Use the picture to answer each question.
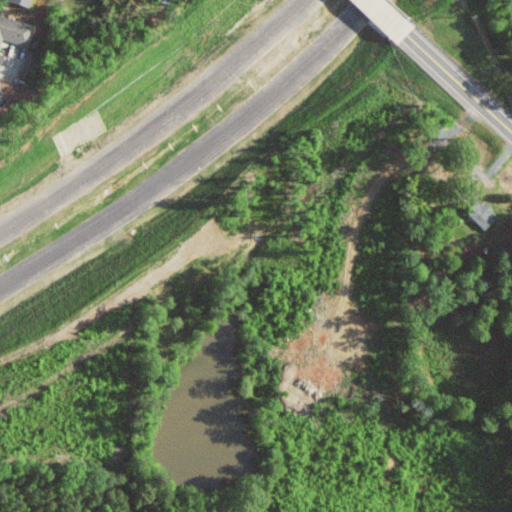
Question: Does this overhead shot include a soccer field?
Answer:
No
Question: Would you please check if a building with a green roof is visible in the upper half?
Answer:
No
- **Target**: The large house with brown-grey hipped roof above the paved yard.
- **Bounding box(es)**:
[0,12,38,50]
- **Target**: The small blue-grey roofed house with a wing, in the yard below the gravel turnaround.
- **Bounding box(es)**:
[466,203,494,232]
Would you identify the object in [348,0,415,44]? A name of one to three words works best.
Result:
bridge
